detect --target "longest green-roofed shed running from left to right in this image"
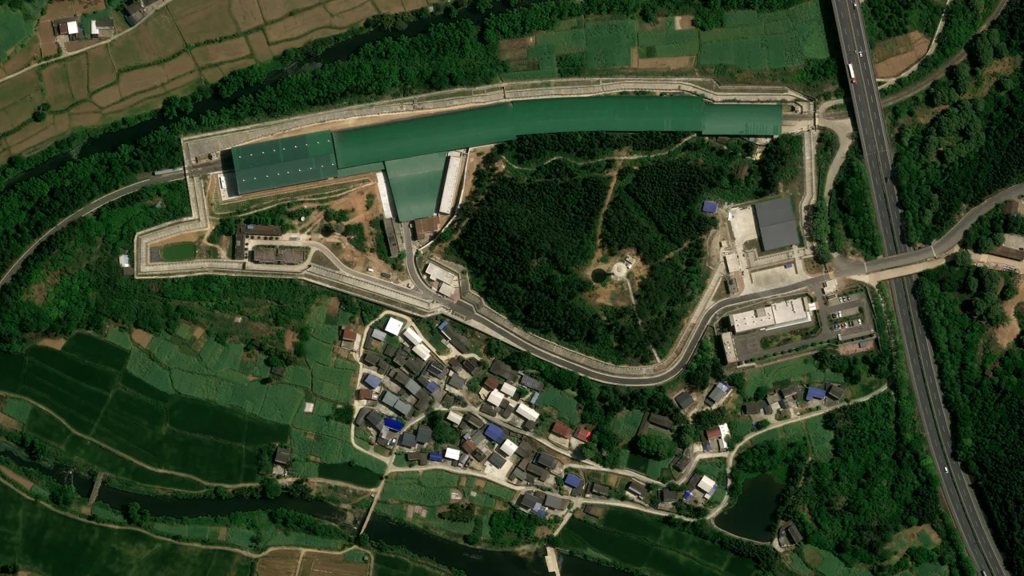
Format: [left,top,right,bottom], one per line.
[333,96,702,169]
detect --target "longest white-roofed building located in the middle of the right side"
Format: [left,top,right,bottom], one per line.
[733,297,812,333]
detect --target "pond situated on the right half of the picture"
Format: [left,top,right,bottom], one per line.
[716,475,783,540]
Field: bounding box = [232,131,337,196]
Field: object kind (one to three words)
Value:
shed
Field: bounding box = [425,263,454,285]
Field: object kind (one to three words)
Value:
building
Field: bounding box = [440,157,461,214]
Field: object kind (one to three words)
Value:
building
